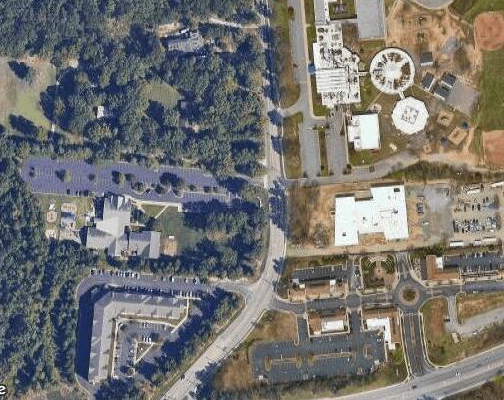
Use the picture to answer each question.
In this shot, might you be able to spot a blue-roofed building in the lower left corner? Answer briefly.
No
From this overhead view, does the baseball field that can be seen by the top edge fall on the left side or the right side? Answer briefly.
right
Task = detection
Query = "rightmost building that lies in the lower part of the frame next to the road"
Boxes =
[427,256,460,281]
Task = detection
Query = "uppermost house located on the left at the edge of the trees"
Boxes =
[170,31,202,52]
